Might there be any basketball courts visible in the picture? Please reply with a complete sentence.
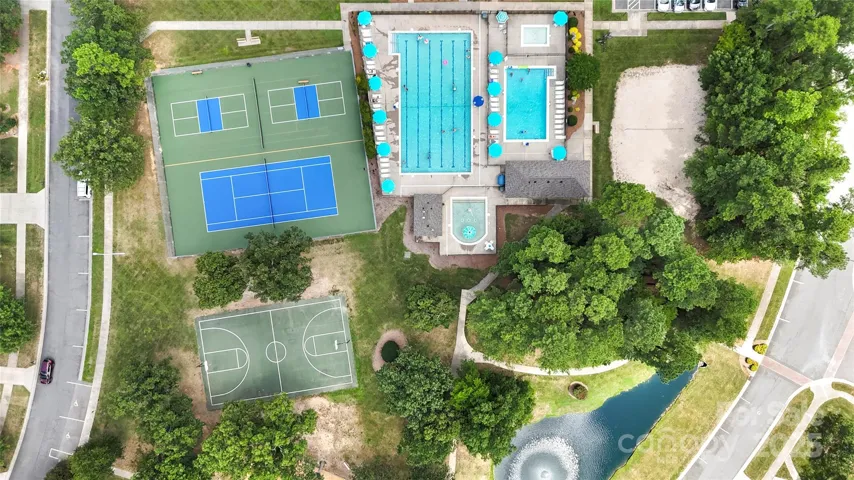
Yes, there is a basketball court in the image.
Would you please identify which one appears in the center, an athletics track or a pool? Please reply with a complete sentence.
There is a pool in the center.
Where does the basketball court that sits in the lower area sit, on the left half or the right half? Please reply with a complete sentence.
You can find the basketball court that sits in the lower area on the left side of the picture.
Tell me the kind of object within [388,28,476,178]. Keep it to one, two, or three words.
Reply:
swimming pool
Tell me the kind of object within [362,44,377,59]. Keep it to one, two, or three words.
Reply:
umbrella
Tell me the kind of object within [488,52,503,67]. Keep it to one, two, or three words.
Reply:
umbrella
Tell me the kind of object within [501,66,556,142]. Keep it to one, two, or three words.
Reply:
swimming pool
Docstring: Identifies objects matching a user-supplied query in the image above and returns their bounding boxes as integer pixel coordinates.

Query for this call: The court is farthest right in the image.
[610,62,712,214]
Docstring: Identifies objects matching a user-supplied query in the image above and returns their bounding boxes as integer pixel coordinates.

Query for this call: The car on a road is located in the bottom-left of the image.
[38,357,56,384]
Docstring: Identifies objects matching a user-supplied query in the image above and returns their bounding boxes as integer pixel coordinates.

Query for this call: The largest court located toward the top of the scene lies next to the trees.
[156,52,375,257]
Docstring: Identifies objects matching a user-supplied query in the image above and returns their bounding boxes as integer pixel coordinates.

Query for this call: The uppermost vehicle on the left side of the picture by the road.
[76,173,92,200]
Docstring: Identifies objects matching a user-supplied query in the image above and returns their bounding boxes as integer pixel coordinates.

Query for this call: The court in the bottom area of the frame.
[196,296,357,410]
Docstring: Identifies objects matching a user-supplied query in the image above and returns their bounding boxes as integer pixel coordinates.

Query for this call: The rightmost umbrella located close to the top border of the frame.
[552,13,566,28]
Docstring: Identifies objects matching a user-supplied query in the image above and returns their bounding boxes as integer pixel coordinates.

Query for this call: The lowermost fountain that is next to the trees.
[503,434,585,480]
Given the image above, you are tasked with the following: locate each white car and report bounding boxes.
[657,0,671,12]
[689,0,702,12]
[703,0,717,12]
[673,0,686,14]
[76,173,92,200]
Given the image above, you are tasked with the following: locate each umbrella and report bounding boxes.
[474,96,484,107]
[487,112,502,128]
[373,110,387,124]
[368,77,382,92]
[486,82,500,97]
[380,179,394,193]
[488,52,503,67]
[552,13,566,28]
[358,12,371,27]
[362,44,377,59]
[495,12,506,25]
[551,147,565,160]
[377,142,391,157]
